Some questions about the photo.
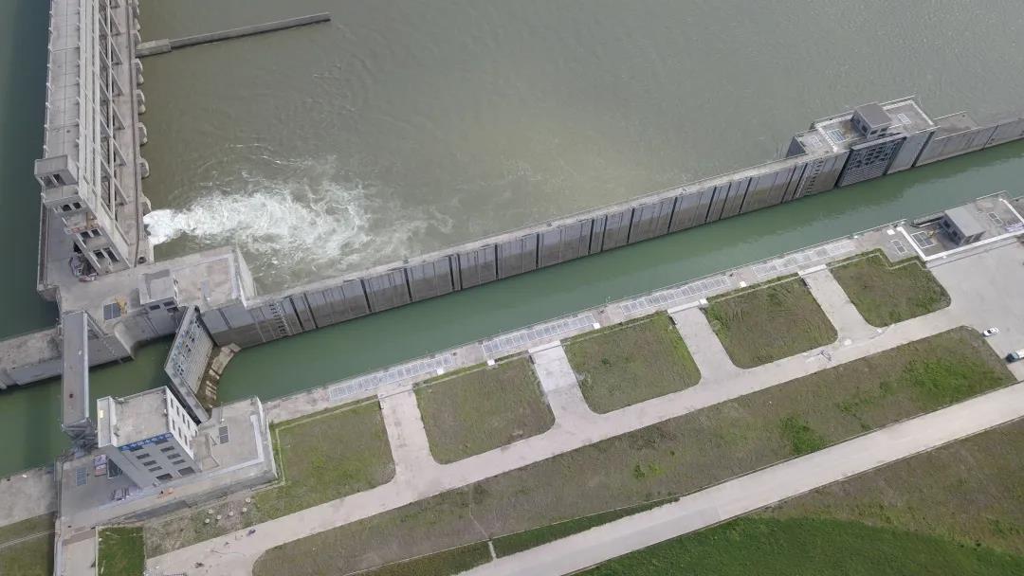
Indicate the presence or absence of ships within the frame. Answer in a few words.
No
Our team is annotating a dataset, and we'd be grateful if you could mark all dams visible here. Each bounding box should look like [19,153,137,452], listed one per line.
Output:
[35,0,166,294]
